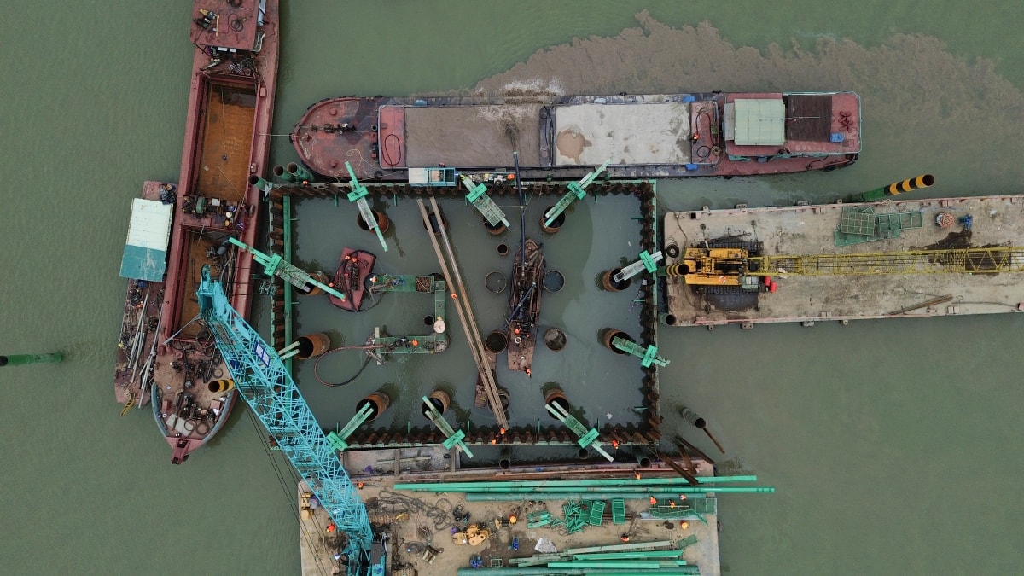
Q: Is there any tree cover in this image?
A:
No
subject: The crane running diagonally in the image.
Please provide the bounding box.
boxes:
[192,269,417,576]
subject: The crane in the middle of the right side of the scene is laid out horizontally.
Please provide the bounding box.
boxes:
[679,239,1024,294]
